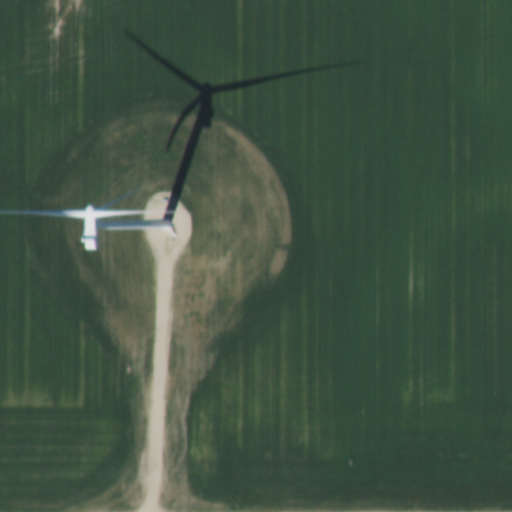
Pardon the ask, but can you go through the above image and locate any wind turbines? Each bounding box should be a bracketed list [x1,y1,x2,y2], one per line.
[0,190,217,250]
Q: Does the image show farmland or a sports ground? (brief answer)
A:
farmland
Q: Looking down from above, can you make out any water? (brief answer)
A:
No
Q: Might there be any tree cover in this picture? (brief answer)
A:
No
